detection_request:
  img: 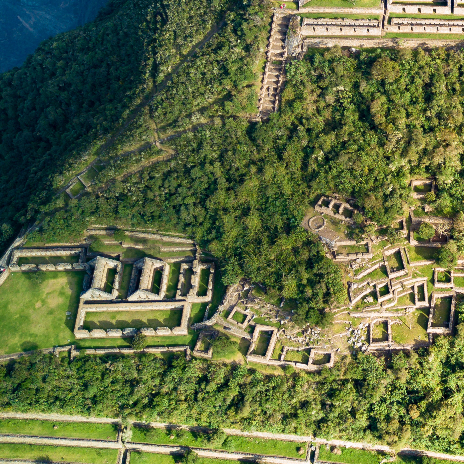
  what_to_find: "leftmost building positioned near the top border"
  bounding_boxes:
[301,16,382,36]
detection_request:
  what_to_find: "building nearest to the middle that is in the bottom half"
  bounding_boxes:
[175,265,214,308]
